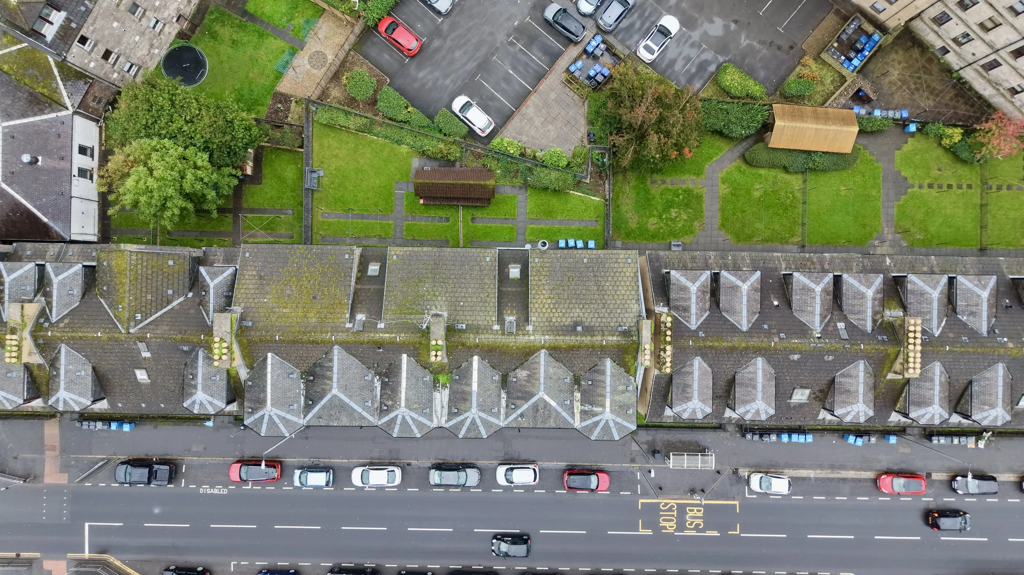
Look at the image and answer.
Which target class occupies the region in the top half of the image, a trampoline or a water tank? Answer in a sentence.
What appears in the top half of the image is a trampoline.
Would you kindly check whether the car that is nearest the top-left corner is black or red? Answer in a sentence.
From above, the car that is nearest the top-left corner appears red.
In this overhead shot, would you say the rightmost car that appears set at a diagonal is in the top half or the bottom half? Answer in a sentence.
You can find the rightmost car that appears set at a diagonal in the top half.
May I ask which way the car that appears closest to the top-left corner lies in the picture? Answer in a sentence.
What the image shows is the car that appears closest to the top-left corner lying on a diagonal.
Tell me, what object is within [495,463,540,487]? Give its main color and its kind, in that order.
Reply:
white car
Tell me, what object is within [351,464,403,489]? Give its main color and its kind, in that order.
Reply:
white car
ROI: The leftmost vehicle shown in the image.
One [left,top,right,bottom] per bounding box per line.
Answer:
[115,461,177,488]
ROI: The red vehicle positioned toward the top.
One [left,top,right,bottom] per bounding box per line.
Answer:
[377,17,423,58]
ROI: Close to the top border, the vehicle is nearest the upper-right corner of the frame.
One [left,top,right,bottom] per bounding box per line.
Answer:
[637,15,678,65]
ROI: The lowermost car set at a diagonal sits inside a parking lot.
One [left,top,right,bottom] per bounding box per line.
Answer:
[452,94,496,139]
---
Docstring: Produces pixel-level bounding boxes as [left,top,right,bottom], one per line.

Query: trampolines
[161,39,210,87]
